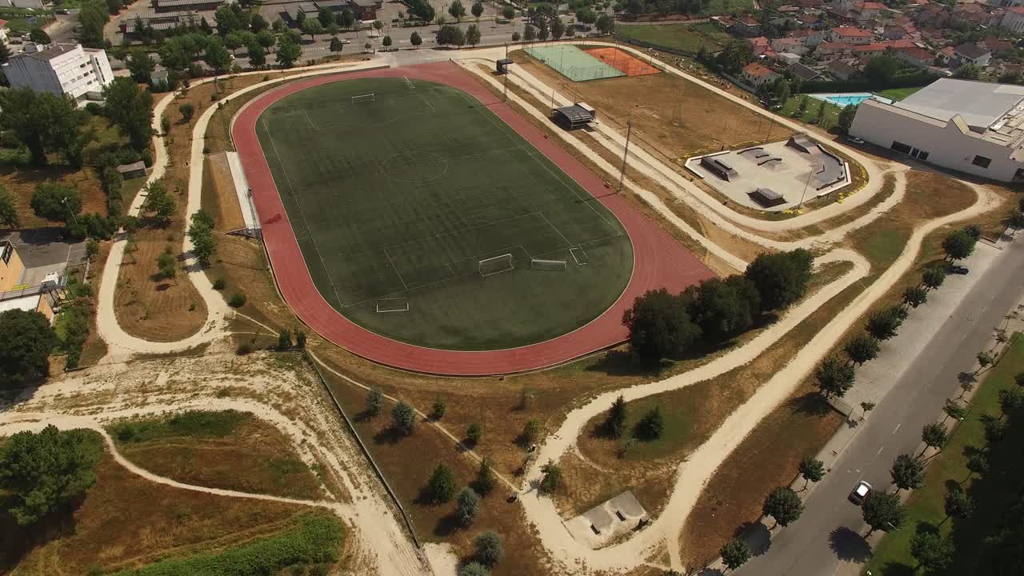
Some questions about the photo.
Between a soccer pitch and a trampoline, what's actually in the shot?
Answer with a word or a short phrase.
soccer pitch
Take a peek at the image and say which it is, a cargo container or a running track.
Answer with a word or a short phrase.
running track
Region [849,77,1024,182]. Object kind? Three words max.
building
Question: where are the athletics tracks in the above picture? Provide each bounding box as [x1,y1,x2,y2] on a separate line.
[231,61,723,378]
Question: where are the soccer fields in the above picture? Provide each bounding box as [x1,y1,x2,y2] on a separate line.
[256,76,632,350]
